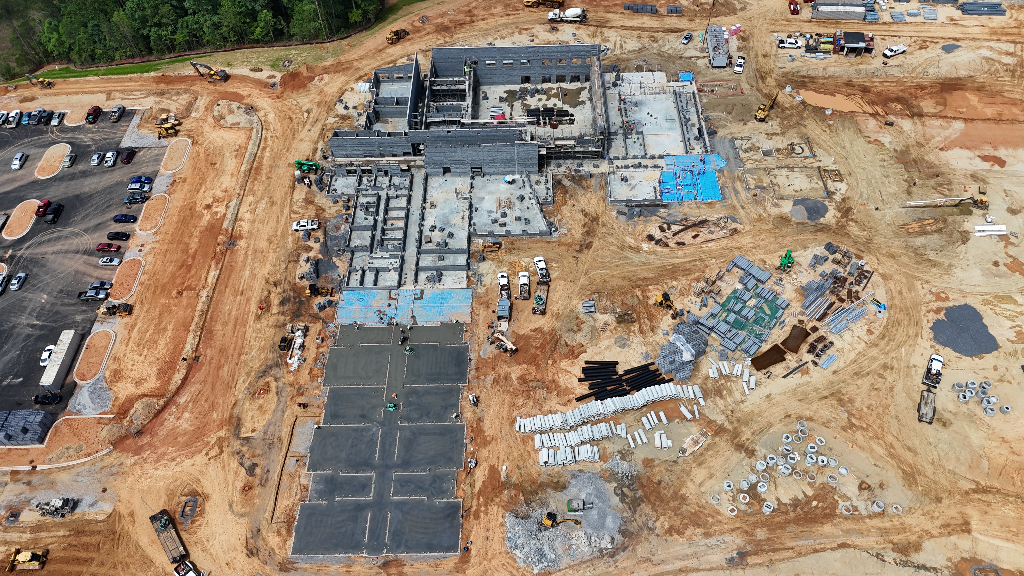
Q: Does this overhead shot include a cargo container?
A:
Yes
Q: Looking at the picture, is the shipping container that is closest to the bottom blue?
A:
No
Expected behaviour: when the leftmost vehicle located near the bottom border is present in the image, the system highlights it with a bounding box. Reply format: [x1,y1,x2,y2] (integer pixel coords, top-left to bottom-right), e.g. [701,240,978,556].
[1,545,52,576]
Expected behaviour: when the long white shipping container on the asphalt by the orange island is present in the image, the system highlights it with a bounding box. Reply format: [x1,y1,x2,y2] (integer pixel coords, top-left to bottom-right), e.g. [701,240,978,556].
[35,330,81,395]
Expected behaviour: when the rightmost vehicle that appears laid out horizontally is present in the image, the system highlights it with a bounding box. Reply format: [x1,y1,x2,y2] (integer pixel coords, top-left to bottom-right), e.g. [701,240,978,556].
[957,196,991,211]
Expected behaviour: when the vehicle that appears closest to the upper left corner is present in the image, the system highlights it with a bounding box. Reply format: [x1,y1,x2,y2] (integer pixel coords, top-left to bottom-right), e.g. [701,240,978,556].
[23,77,58,93]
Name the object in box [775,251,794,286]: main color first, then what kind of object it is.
green work vehicle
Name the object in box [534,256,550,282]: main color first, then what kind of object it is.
white vehicle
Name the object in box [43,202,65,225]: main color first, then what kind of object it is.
black truck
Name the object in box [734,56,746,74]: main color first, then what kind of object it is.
white vehicle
